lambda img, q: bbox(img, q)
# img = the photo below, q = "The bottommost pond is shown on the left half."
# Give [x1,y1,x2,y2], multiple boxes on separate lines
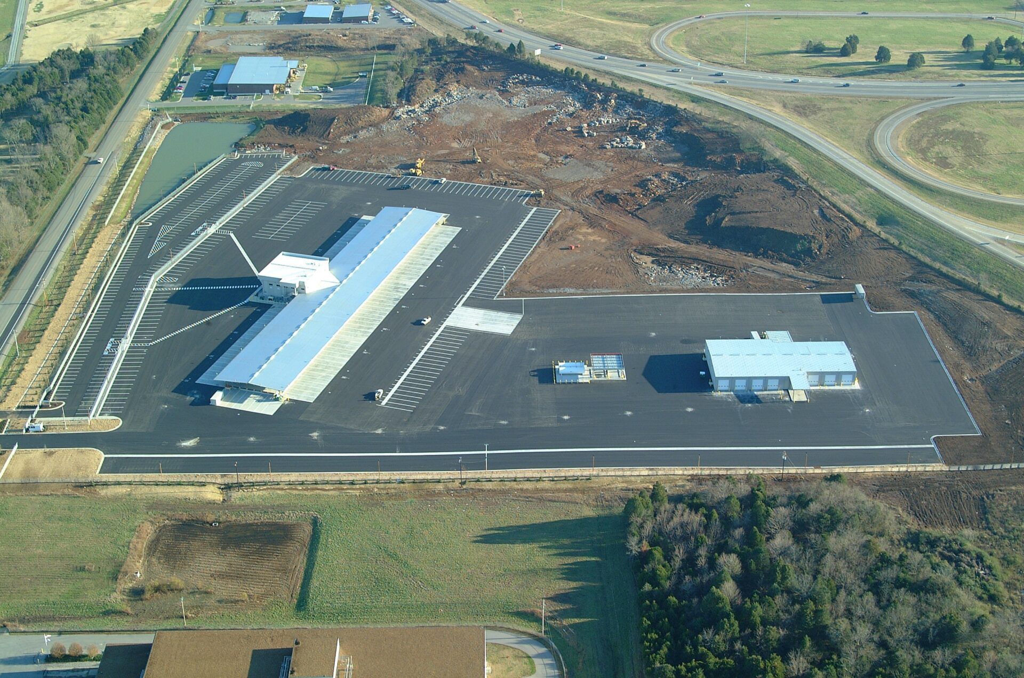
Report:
[131,124,255,221]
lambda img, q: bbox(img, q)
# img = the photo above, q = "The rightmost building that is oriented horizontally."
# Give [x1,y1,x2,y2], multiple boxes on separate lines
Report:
[700,338,857,401]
